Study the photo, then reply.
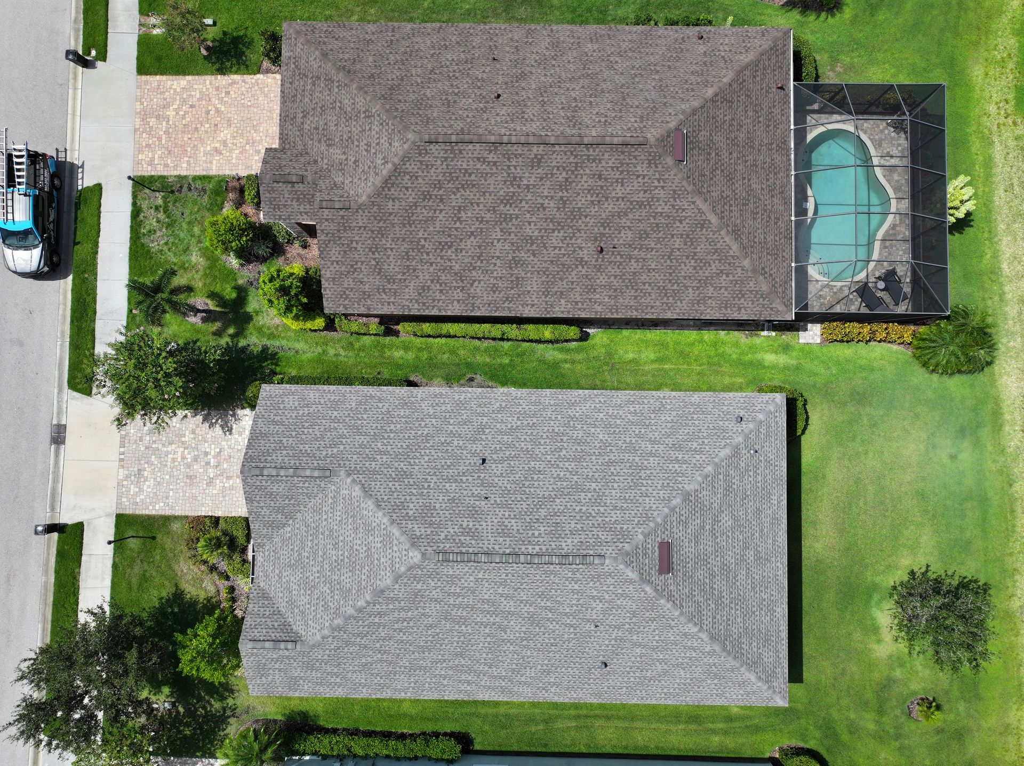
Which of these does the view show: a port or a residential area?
residential area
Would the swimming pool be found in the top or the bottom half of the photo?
top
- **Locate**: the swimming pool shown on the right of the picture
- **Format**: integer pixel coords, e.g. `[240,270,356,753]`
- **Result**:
[796,122,898,286]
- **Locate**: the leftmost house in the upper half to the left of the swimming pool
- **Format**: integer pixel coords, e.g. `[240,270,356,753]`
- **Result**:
[258,19,796,323]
